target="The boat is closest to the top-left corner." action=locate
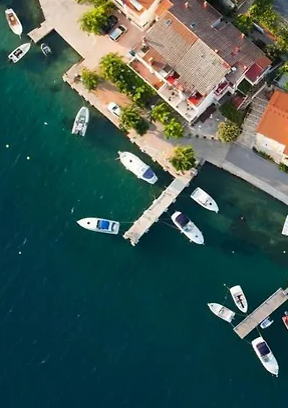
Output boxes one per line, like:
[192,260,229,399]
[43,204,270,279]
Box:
[4,8,23,36]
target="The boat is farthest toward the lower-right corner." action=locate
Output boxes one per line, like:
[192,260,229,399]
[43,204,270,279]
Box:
[252,338,277,377]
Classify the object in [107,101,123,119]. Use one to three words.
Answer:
car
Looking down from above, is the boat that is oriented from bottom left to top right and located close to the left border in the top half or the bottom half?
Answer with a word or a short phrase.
top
